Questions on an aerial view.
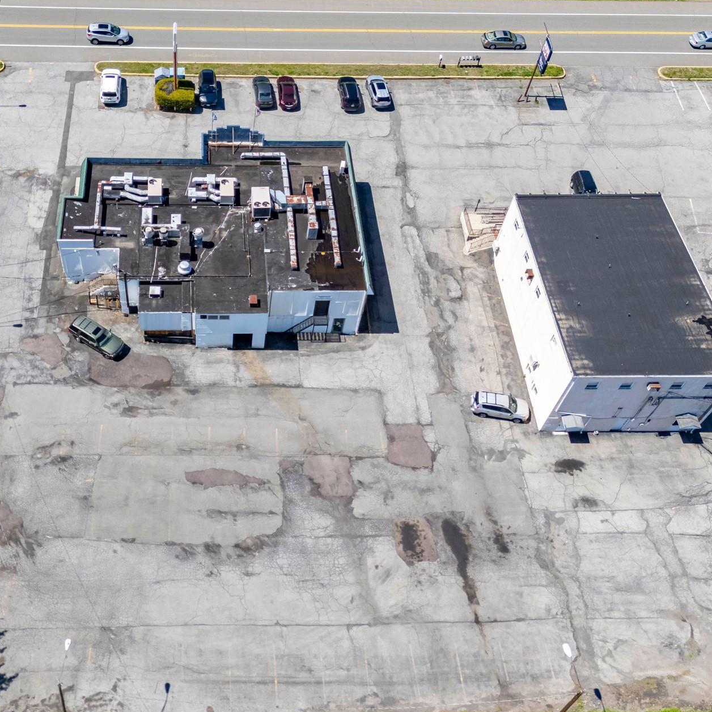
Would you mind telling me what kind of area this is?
parking lot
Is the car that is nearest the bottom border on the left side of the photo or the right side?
right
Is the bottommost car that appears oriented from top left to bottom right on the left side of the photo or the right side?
left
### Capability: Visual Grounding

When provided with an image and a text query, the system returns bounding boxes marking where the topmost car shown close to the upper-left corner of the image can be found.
[87,22,129,43]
